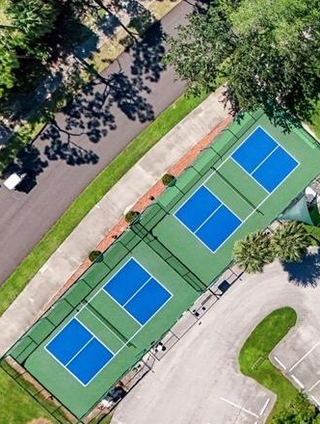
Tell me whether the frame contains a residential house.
No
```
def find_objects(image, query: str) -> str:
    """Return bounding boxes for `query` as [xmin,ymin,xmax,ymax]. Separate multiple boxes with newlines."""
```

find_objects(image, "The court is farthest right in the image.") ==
[137,97,320,286]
